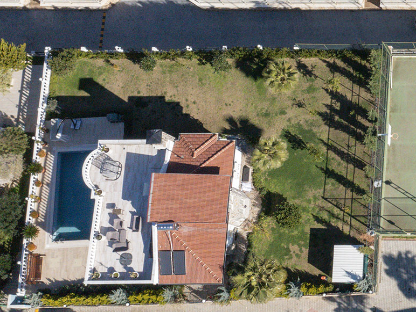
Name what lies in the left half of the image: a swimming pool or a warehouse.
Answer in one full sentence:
Looking in the left half of the image, you will find a swimming pool.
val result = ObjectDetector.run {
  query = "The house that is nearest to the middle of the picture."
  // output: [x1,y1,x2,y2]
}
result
[78,129,253,287]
